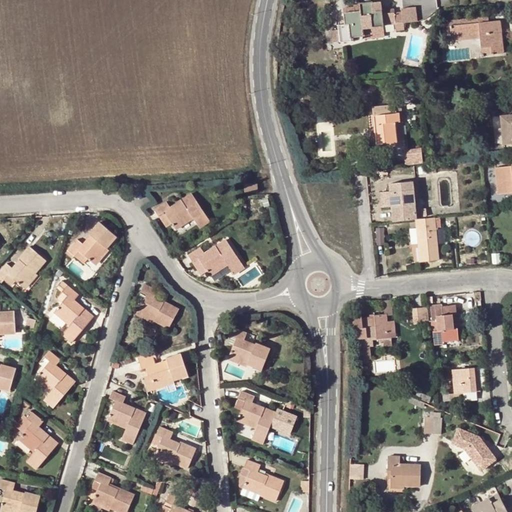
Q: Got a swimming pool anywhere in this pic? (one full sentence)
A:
Yes, a swimming pool can be made out from above.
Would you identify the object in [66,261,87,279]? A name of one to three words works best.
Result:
swimming pool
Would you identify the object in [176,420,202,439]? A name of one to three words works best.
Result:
swimming pool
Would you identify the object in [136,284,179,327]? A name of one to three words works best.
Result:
house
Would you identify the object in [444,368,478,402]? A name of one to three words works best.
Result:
house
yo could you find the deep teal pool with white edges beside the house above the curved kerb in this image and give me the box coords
[236,266,262,287]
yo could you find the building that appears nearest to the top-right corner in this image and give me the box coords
[452,17,504,55]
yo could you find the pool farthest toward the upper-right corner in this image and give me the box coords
[448,46,472,62]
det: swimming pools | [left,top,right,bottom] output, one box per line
[224,362,246,381]
[100,445,128,467]
[404,32,425,63]
[176,420,202,439]
[236,266,262,287]
[374,358,396,375]
[157,384,188,405]
[285,496,305,512]
[269,433,298,456]
[2,337,22,352]
[66,261,87,279]
[464,229,482,247]
[448,46,472,62]
[320,130,334,153]
[437,177,452,208]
